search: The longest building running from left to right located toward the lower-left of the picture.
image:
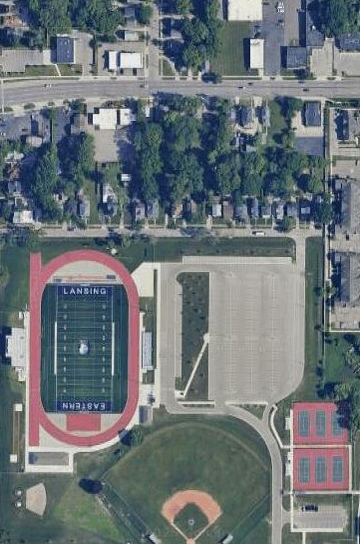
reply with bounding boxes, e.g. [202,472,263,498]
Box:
[33,452,68,465]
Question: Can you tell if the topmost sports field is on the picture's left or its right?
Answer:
left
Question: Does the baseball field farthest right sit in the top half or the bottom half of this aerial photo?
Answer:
bottom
